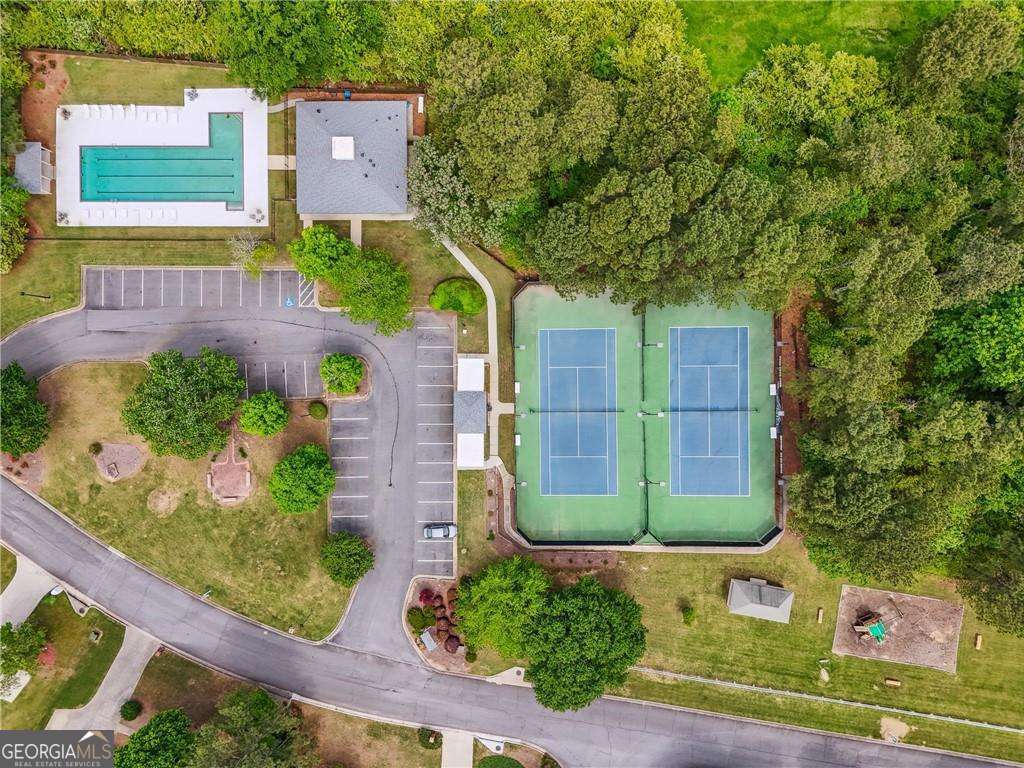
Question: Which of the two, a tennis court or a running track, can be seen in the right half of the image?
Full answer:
You can see a tennis court in the right half of the image.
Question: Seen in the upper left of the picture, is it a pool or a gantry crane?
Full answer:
It is a pool that can be seen in the upper left of the picture.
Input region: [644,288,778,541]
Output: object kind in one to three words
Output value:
tennis court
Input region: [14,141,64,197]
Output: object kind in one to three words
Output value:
shed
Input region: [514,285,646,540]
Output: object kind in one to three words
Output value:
tennis court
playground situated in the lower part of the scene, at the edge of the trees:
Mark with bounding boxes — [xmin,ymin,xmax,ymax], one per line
[832,585,964,674]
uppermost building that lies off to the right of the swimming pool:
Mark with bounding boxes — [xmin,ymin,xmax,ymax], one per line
[295,99,408,215]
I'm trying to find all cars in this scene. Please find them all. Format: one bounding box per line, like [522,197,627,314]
[424,524,457,540]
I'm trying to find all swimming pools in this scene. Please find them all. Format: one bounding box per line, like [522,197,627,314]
[56,89,268,226]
